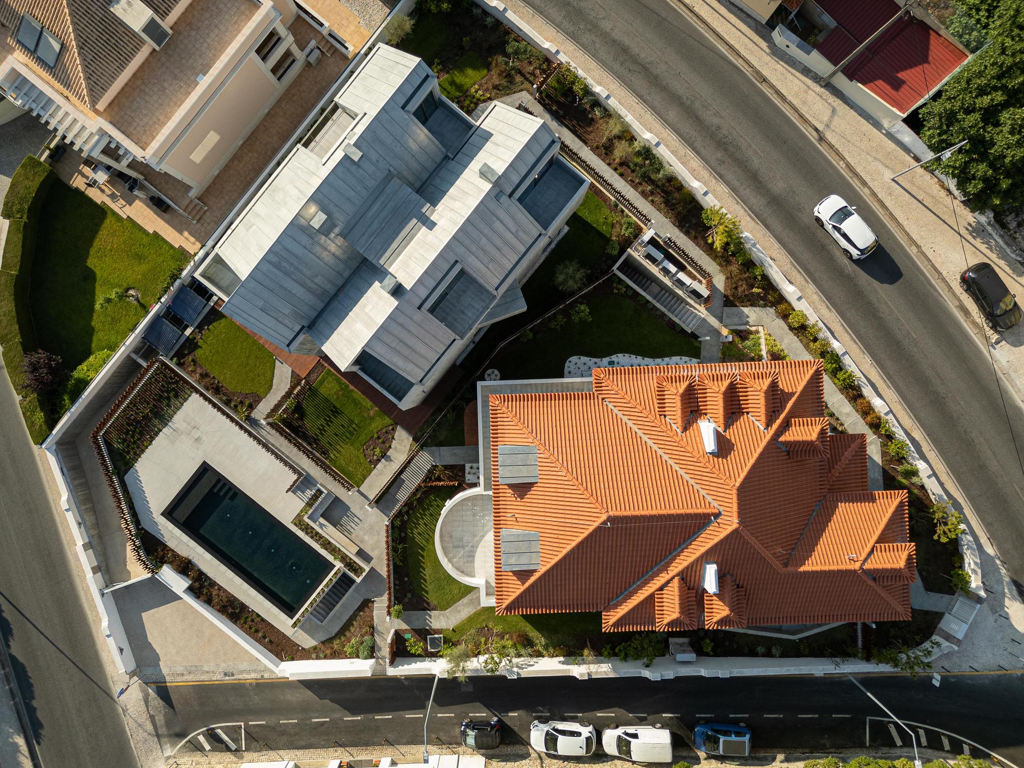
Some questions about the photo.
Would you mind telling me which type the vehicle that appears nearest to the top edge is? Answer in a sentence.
It turns out the vehicle that appears nearest to the top edge is an automobile.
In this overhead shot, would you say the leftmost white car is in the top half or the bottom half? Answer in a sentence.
Seen from above, the leftmost white car lies in the bottom half of the view.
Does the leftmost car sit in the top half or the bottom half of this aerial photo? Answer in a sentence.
The leftmost car sits in the bottom half of the picture.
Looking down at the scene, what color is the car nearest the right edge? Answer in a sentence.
The car nearest the right edge is black.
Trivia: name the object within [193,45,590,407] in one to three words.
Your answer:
house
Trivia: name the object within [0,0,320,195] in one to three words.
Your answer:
house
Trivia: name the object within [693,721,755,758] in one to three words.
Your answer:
car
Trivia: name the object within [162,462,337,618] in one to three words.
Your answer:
swimming pool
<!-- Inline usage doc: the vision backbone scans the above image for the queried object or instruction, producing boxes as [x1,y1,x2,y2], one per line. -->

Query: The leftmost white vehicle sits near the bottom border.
[528,721,596,760]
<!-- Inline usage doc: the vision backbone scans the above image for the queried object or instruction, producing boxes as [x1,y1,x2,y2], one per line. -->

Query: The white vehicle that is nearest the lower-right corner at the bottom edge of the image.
[602,724,675,766]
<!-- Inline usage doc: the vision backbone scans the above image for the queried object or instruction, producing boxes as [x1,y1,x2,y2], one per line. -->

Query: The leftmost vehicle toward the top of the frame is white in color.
[817,193,882,259]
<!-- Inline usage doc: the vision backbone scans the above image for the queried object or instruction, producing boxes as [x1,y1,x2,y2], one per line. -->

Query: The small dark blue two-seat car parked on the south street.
[458,719,502,755]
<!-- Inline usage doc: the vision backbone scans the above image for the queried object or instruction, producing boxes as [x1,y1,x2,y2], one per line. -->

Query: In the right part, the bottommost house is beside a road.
[433,358,919,640]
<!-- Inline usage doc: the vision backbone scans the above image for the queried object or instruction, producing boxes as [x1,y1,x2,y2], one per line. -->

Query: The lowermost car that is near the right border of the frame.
[962,264,1024,326]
